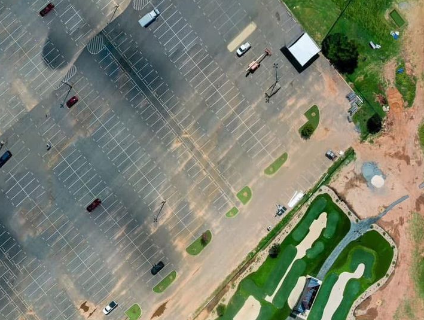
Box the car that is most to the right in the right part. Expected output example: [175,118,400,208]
[323,148,340,161]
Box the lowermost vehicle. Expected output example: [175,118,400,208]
[101,299,119,316]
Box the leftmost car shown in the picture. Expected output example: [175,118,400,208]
[0,150,12,167]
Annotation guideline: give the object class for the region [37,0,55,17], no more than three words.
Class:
vehicle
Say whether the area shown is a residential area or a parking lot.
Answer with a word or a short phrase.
parking lot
